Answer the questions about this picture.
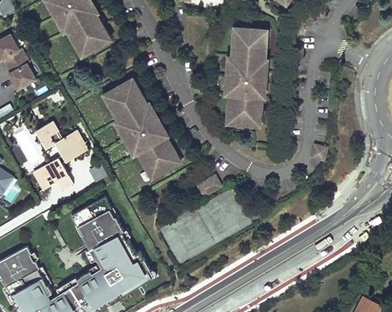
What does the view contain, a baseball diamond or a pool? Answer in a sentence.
The one in the frame is a pool.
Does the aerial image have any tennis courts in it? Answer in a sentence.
Yes, the picture does show a tennis court.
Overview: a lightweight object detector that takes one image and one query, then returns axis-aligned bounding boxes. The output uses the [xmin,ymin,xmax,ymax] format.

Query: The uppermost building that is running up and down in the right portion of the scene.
[223,28,270,130]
